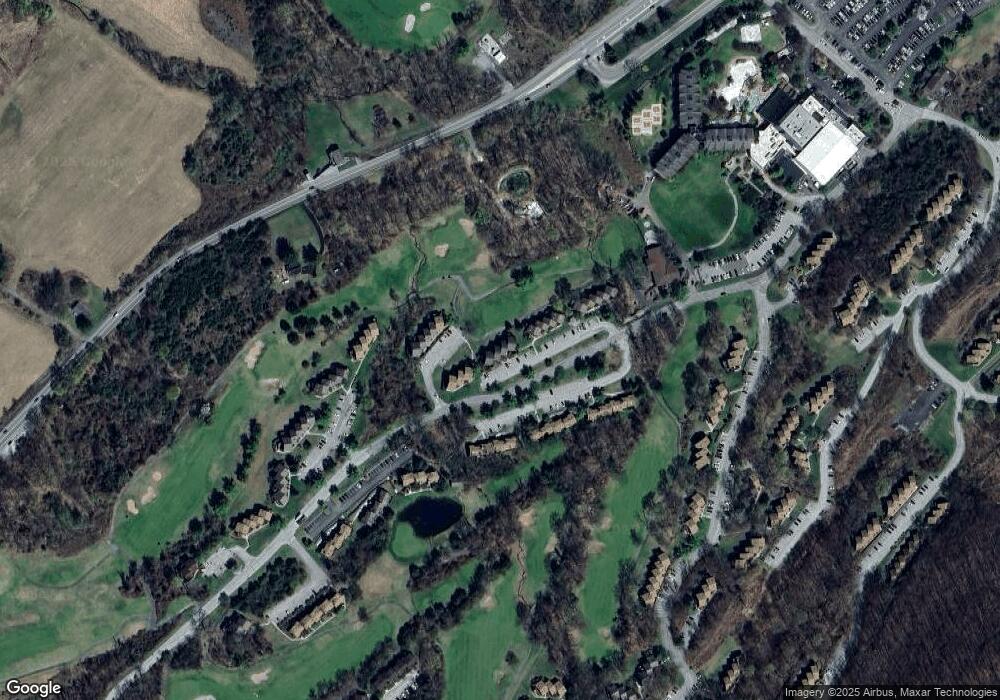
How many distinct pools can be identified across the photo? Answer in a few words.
1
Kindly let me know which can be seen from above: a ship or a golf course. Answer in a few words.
golf course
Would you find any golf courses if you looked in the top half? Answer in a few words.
Yes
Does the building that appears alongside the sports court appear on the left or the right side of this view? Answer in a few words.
right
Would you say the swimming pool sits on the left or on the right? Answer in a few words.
right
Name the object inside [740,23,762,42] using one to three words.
building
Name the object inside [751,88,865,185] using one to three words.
building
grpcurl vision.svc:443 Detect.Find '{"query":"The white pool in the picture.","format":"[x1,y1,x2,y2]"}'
[712,55,768,125]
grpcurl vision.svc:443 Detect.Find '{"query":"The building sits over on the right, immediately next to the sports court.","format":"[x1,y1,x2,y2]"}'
[650,68,755,180]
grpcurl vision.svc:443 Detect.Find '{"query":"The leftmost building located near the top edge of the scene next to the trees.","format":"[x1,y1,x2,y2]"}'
[479,33,505,63]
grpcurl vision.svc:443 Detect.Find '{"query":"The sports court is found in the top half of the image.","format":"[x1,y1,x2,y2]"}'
[632,104,662,135]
